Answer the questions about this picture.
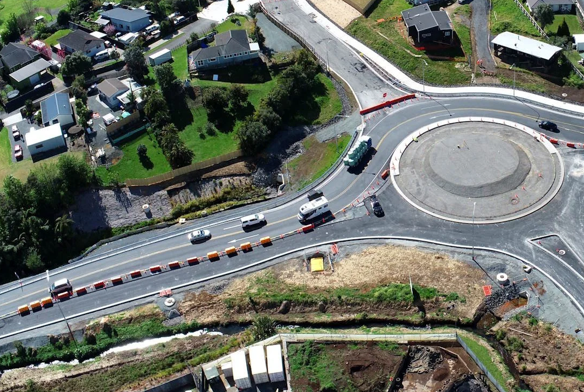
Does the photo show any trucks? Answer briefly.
Yes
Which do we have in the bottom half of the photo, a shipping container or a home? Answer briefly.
shipping container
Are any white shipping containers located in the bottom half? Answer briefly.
Yes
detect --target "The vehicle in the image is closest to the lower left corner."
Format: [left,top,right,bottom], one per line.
[44,272,77,295]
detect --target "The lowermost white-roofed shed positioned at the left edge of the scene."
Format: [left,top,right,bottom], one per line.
[22,122,65,159]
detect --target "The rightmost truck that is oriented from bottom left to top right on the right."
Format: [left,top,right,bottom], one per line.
[339,128,374,168]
